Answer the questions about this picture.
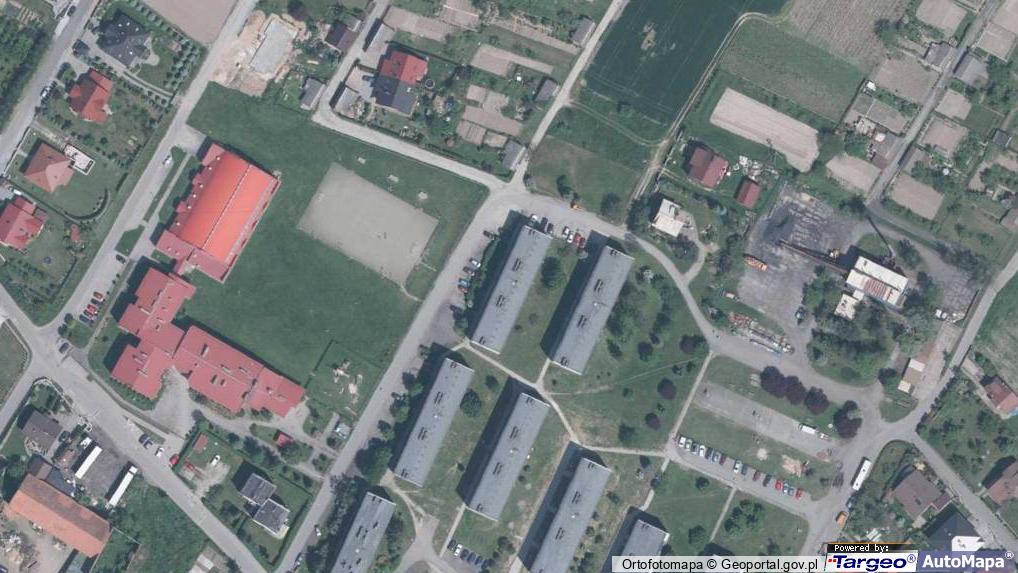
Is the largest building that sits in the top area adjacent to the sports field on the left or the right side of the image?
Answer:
left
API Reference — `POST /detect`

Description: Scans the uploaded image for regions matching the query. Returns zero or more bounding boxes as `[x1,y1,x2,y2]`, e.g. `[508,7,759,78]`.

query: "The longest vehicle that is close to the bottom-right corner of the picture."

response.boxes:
[853,459,871,489]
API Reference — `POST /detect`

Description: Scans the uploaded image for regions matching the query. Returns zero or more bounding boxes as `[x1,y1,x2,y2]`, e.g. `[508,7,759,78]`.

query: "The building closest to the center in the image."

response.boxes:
[471,225,553,356]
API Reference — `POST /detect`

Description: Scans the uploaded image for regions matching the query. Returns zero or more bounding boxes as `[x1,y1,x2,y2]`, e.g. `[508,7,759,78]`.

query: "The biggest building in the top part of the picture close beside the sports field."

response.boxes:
[155,143,281,284]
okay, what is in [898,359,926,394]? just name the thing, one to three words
building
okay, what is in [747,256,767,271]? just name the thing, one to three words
vehicle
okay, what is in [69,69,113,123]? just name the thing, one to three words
house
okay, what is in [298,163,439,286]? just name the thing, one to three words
sports field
